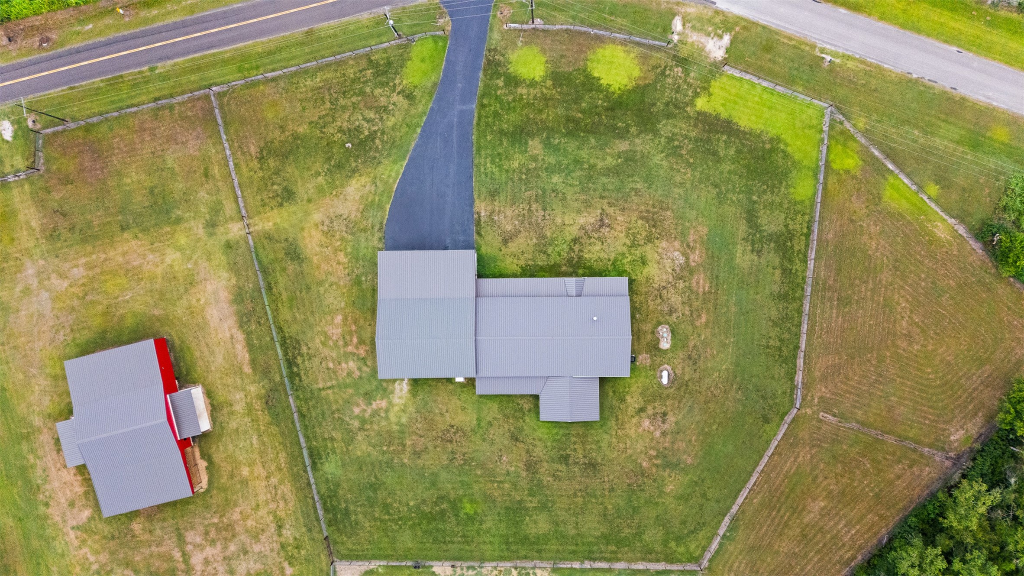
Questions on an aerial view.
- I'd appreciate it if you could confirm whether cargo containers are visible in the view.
No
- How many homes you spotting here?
2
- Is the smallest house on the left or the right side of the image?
left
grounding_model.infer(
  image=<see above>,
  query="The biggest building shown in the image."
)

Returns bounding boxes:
[375,250,632,422]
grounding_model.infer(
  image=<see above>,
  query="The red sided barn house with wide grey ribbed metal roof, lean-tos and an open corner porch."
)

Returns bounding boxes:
[56,337,211,518]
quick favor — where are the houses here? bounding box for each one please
[375,250,632,422]
[56,337,211,518]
